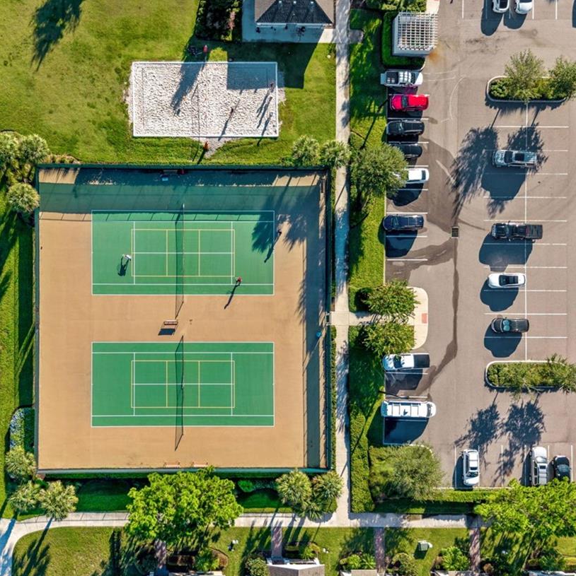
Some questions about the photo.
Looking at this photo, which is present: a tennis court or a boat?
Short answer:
tennis court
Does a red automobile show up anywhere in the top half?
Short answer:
Yes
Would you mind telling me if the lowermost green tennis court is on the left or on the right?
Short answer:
left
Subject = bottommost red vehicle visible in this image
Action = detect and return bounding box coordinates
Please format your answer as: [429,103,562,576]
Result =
[390,93,428,112]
